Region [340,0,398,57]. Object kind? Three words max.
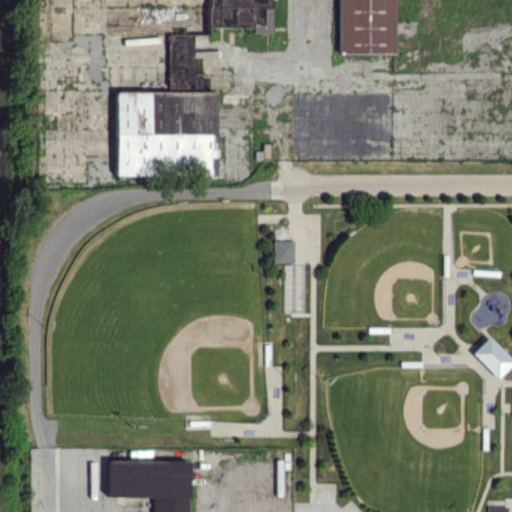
building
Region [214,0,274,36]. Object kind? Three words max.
building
